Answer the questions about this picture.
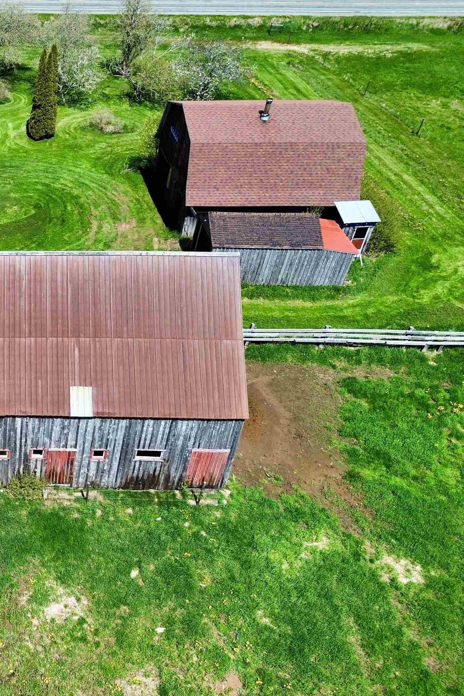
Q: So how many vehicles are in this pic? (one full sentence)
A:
There are no vehicles in the image.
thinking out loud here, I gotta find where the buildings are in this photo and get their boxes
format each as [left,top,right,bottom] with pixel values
[0,249,253,492]
[159,89,366,237]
